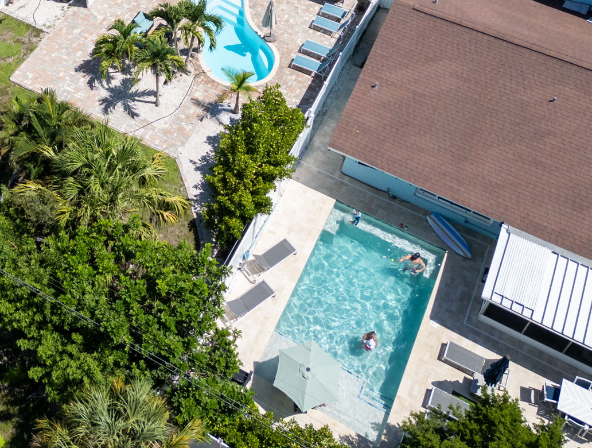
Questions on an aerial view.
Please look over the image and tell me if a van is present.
No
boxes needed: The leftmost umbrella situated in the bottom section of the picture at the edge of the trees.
[273,339,342,411]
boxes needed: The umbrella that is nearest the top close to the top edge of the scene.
[262,0,280,44]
